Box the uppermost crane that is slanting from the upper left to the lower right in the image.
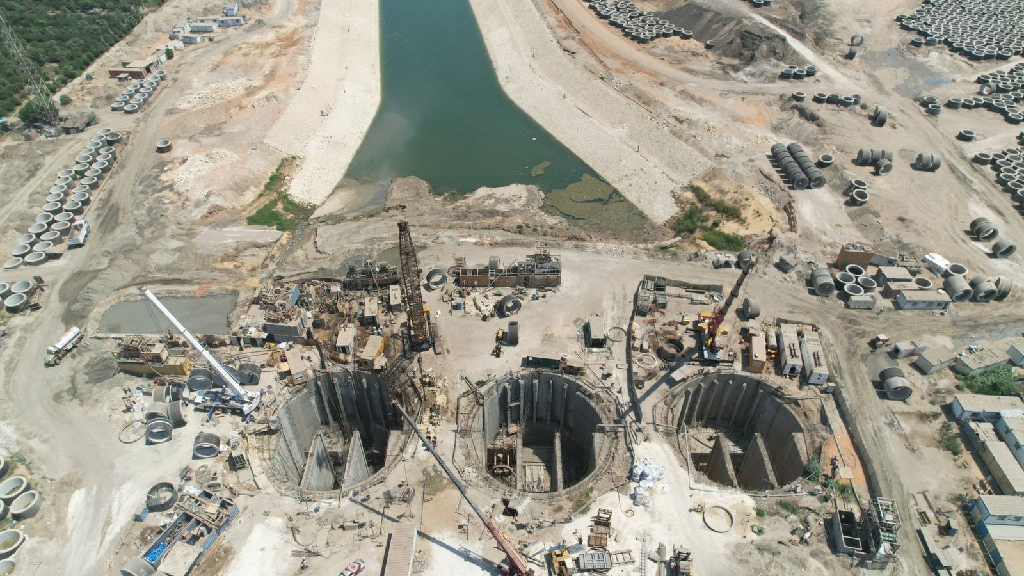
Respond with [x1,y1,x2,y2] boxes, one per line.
[135,282,270,436]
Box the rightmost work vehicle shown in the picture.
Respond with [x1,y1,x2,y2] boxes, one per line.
[870,330,894,349]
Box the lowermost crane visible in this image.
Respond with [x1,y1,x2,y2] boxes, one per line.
[390,400,554,576]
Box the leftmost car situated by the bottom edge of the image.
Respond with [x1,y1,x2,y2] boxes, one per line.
[337,555,369,576]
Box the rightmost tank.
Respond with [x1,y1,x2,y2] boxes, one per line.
[821,499,868,561]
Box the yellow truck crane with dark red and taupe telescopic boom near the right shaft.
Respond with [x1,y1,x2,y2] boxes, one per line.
[680,256,756,378]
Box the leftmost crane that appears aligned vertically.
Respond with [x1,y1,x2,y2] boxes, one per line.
[399,220,441,428]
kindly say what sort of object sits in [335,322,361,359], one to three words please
building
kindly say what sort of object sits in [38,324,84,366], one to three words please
truck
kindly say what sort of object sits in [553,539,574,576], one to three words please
work vehicle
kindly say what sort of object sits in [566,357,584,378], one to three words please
shed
